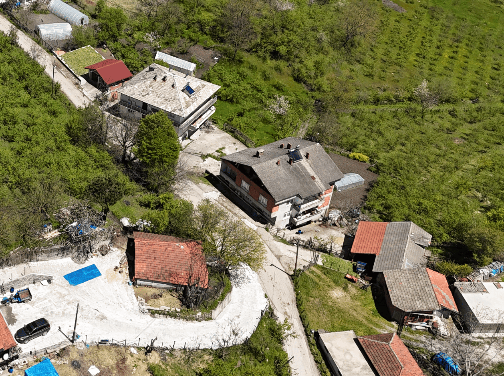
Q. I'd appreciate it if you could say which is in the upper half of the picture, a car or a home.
home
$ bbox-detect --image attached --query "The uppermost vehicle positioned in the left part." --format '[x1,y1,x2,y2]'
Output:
[0,285,33,306]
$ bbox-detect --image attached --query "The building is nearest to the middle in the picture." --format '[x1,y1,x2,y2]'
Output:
[223,135,343,238]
